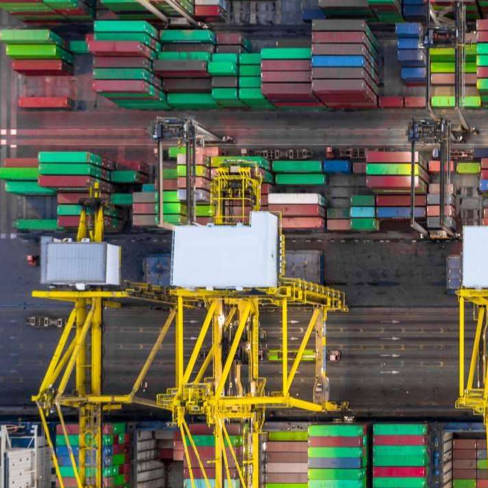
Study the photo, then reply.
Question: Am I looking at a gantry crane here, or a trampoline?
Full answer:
This aerial view contains a gantry crane.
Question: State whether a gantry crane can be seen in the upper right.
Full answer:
Yes, a gantry crane is visible in the upper right.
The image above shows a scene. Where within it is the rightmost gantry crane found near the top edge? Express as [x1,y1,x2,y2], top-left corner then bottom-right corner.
[418,2,479,133]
